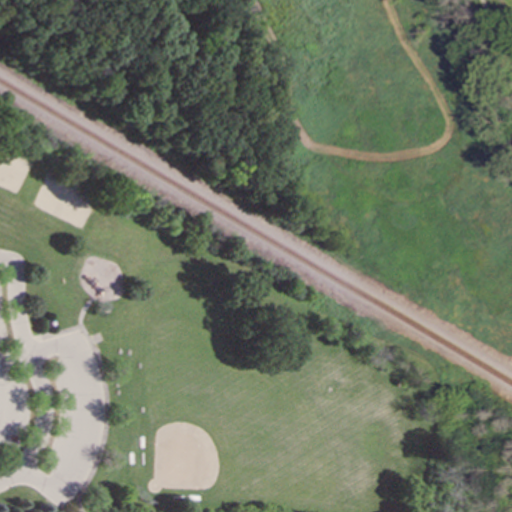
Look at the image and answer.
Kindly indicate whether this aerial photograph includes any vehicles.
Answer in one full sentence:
No, the photo shows no vehicle.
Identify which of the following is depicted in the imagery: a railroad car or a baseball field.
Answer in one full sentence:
I can see a baseball field in this picture.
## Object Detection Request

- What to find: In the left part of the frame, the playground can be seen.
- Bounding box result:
[81,256,122,302]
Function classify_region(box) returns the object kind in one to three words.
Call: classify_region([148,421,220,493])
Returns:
baseball field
